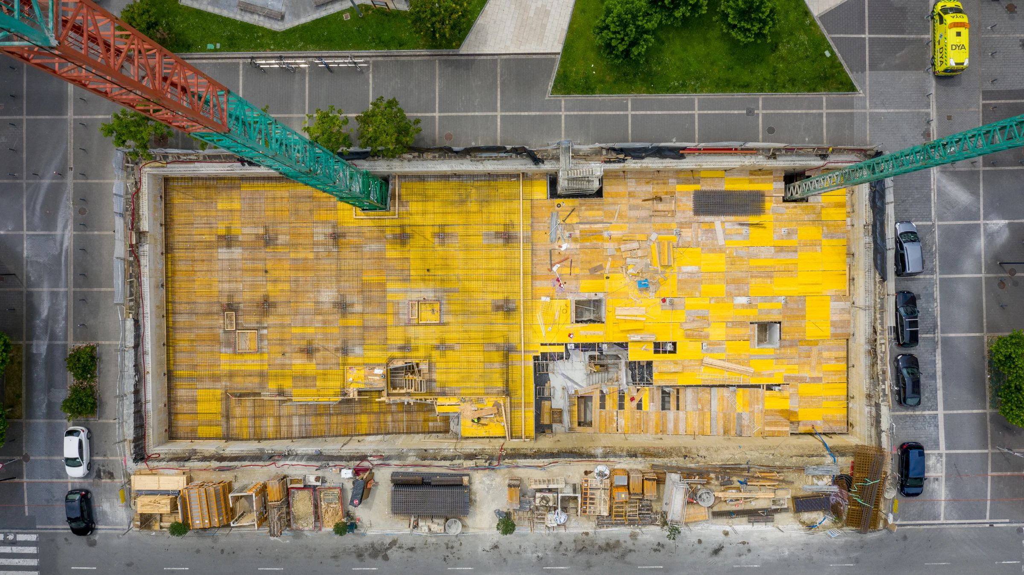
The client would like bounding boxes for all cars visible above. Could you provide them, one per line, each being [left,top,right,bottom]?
[60,427,93,479]
[894,291,925,349]
[893,220,927,278]
[896,442,928,498]
[892,355,924,408]
[64,488,96,538]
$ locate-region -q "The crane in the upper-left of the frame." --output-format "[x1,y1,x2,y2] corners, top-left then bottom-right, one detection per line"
[0,0,394,213]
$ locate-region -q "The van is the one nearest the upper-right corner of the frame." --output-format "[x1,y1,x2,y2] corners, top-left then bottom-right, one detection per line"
[928,0,974,75]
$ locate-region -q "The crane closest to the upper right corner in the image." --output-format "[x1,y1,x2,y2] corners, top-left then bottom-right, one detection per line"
[782,110,1024,203]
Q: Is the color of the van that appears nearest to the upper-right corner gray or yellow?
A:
yellow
